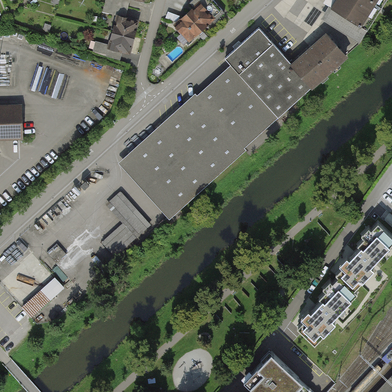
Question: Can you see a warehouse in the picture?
Yes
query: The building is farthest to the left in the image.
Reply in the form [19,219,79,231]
[0,104,24,140]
